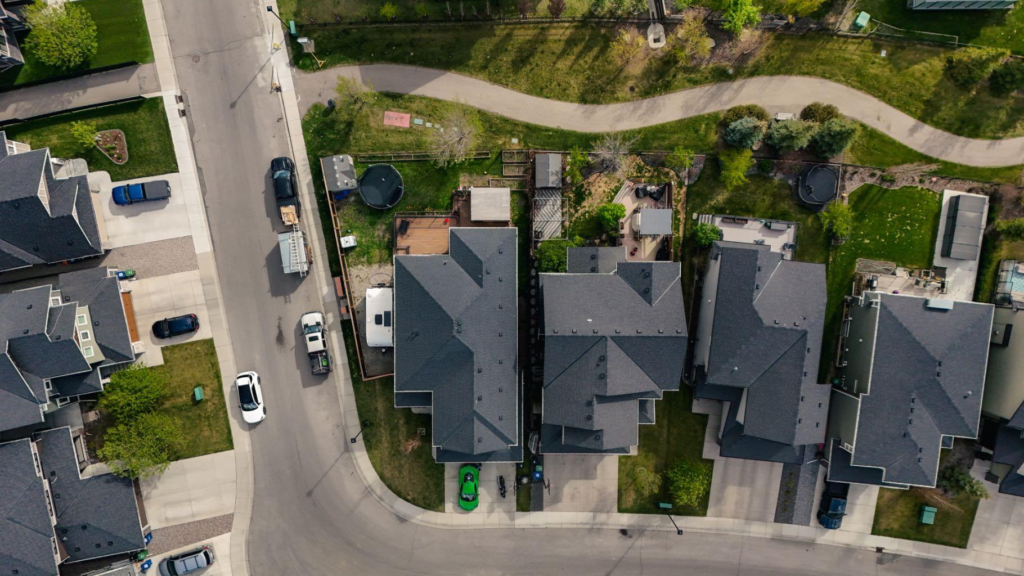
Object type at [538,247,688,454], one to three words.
house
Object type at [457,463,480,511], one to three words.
car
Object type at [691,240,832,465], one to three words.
house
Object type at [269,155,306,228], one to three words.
truck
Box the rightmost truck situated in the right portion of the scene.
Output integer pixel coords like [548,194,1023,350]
[817,473,850,532]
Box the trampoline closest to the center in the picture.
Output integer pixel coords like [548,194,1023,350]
[357,163,404,210]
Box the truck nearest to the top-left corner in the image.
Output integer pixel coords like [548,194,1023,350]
[109,179,175,207]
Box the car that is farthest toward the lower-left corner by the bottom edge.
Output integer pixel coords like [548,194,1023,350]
[159,545,218,576]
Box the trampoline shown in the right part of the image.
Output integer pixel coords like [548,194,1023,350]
[799,160,845,206]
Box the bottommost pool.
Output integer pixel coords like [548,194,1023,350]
[994,260,1024,295]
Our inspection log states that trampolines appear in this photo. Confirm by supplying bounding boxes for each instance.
[799,160,845,206]
[357,163,404,210]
